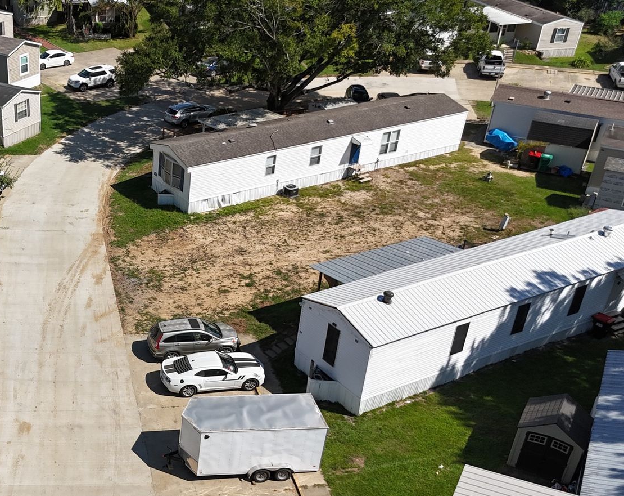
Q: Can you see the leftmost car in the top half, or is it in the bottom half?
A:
top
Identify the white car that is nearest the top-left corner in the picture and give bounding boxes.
[41,49,77,70]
